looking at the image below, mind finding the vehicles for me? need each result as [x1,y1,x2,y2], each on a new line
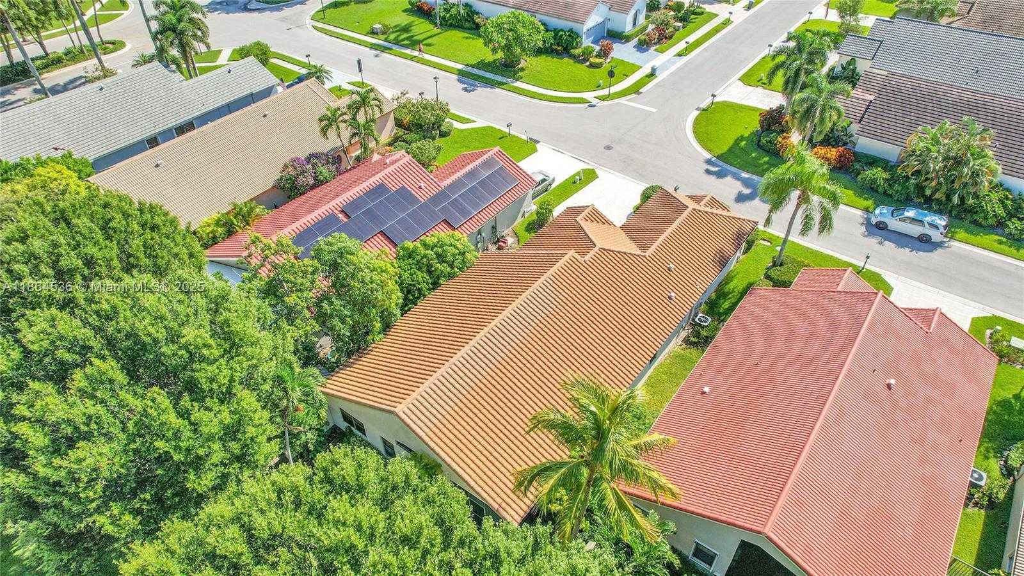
[528,175,562,210]
[871,207,950,244]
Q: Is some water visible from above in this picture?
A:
No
